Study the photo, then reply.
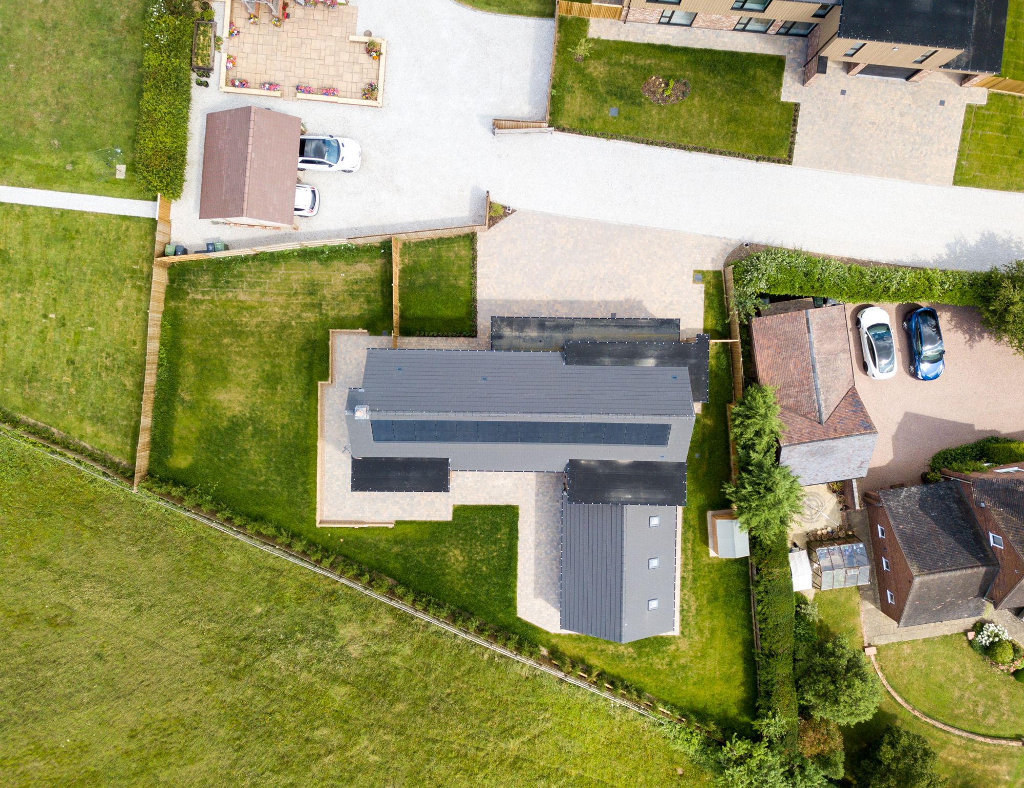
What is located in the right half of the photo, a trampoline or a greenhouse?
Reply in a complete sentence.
Visible in the right half of the photo is a greenhouse.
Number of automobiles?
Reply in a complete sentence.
Altogether the scene contains 4 automobiles.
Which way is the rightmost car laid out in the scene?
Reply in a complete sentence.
In this picture, the rightmost car lies from top to bottom.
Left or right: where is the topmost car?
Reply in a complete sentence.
It is on the left.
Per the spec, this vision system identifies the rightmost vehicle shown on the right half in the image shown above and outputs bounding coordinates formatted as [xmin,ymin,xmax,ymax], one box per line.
[905,306,949,381]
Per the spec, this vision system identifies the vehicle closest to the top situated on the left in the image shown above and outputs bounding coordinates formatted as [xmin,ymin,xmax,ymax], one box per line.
[298,134,363,173]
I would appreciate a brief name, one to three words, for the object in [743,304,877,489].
building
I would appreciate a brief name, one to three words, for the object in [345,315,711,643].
house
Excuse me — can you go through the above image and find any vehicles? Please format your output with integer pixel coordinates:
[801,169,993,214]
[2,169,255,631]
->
[294,185,323,218]
[905,306,949,381]
[298,134,363,173]
[856,306,895,381]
